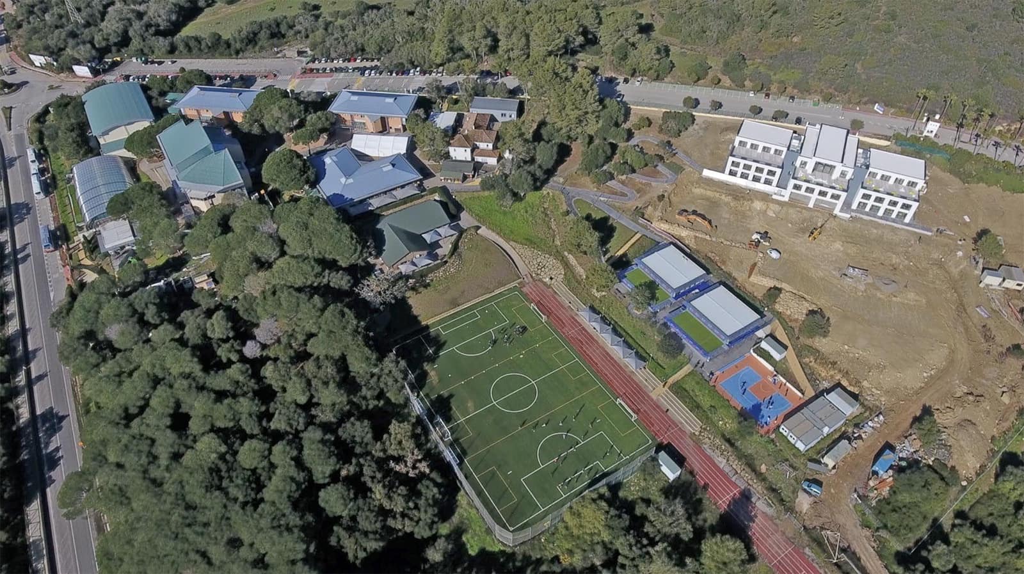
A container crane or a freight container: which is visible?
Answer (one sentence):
The image shows a freight container.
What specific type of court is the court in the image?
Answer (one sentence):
What you see as the court is a basketball court.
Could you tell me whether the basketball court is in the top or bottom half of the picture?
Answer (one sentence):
It is in the bottom half that the basketball court appears.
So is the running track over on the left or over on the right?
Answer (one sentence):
The running track sits on the right side.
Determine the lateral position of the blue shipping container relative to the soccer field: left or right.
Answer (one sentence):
You can see the blue shipping container positioned to the right of the soccer field.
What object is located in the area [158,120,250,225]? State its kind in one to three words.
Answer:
building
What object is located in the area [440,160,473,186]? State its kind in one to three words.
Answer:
shed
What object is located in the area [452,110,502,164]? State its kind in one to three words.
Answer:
house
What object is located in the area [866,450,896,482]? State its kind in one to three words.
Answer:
shipping container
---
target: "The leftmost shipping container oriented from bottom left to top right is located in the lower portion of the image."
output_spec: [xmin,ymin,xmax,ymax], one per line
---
[821,440,852,467]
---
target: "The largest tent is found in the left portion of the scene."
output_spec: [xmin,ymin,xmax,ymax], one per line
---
[351,135,412,160]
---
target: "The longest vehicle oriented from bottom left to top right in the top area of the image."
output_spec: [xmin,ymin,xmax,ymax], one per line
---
[806,210,836,241]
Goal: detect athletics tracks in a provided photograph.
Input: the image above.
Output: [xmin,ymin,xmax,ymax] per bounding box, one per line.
[516,276,822,574]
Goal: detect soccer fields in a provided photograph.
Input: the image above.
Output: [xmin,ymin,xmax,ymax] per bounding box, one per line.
[377,282,662,536]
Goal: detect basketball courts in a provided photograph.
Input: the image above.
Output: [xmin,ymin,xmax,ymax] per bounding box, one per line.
[712,354,805,429]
